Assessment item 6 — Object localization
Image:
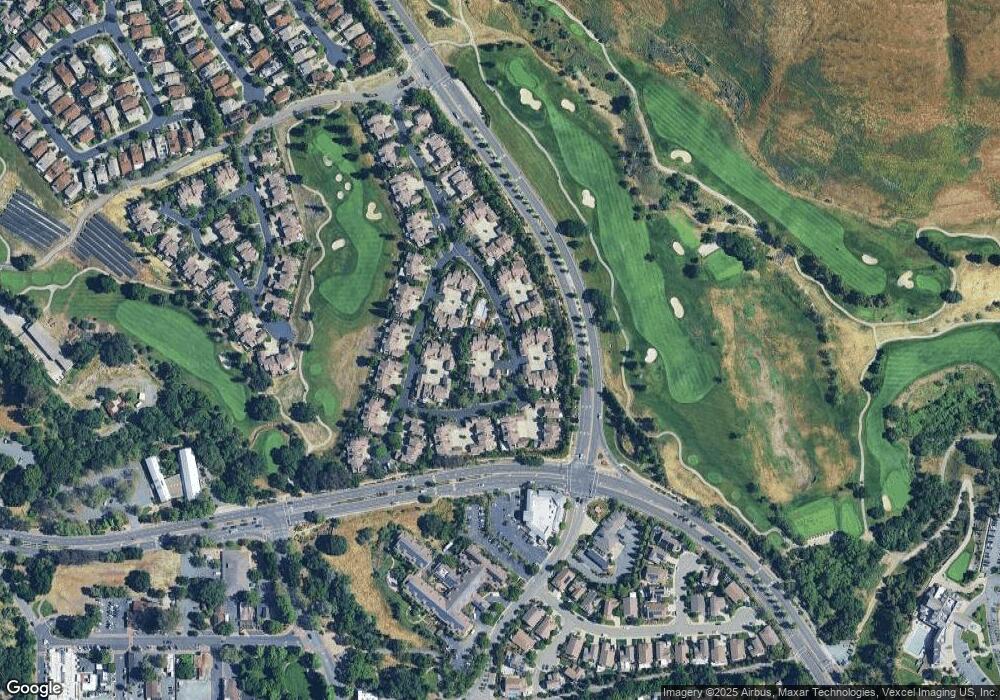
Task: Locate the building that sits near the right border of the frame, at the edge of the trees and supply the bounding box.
[919,587,959,666]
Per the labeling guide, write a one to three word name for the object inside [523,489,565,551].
building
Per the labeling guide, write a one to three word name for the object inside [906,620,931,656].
swimming pool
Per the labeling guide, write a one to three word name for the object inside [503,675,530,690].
house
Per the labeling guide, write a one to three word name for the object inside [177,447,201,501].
shed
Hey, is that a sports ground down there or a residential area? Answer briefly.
residential area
